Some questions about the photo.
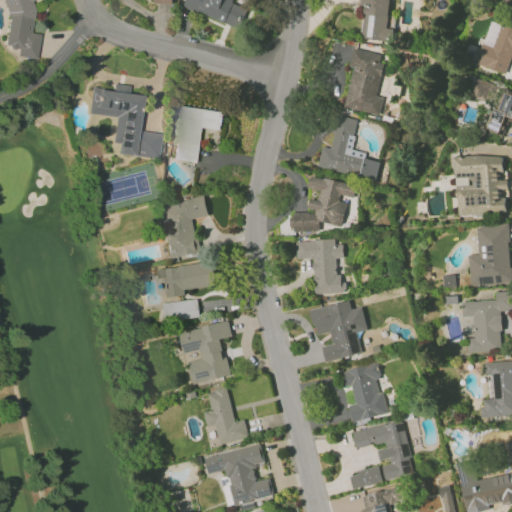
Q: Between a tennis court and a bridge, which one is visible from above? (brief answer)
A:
tennis court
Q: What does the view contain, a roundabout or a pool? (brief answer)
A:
pool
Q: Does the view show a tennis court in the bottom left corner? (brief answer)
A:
No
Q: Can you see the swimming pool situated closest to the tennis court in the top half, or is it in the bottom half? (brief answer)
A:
top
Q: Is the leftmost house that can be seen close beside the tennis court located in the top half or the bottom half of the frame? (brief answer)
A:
top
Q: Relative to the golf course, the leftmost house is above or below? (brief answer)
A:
above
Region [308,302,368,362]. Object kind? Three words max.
house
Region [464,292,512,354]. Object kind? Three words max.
house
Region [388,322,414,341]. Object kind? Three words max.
swimming pool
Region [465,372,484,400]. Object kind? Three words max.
swimming pool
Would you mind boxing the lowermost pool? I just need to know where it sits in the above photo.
[169,467,192,486]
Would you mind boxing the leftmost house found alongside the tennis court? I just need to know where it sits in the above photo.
[92,82,164,158]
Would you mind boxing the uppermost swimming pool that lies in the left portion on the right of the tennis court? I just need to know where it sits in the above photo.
[166,160,192,187]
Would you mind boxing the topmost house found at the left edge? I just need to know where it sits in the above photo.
[4,0,43,58]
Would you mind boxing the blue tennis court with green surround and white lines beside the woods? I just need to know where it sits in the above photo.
[97,162,162,211]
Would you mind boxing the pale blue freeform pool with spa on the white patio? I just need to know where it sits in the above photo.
[452,428,470,458]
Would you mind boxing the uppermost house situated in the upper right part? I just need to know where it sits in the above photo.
[362,0,392,46]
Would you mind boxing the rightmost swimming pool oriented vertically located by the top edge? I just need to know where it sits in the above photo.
[402,0,414,26]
